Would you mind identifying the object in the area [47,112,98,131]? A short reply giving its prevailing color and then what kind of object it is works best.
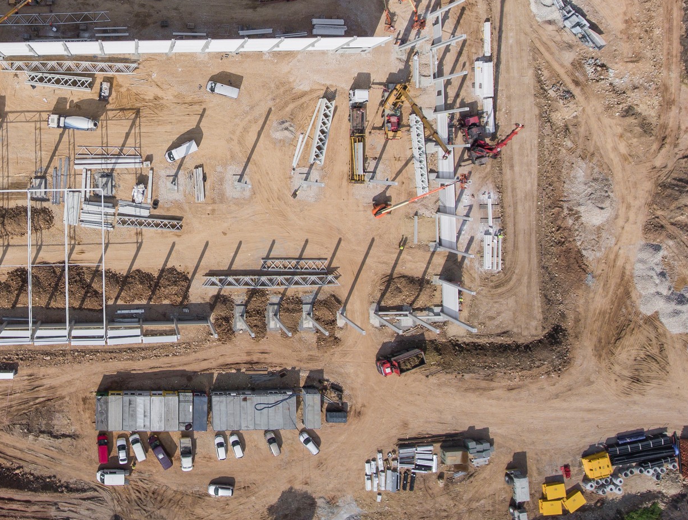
white vehicle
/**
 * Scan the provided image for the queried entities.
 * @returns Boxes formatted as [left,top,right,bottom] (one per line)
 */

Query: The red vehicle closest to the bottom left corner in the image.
[96,435,109,468]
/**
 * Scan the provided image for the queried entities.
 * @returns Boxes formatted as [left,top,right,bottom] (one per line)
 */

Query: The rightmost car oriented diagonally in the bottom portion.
[299,431,322,459]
